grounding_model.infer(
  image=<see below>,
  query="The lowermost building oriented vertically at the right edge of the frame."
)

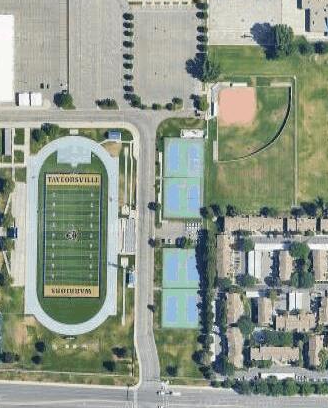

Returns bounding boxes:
[308,335,323,368]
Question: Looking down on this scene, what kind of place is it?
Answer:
sports ground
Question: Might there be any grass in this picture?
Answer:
Yes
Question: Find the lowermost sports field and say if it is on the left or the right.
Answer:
left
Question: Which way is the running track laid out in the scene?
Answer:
vertically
